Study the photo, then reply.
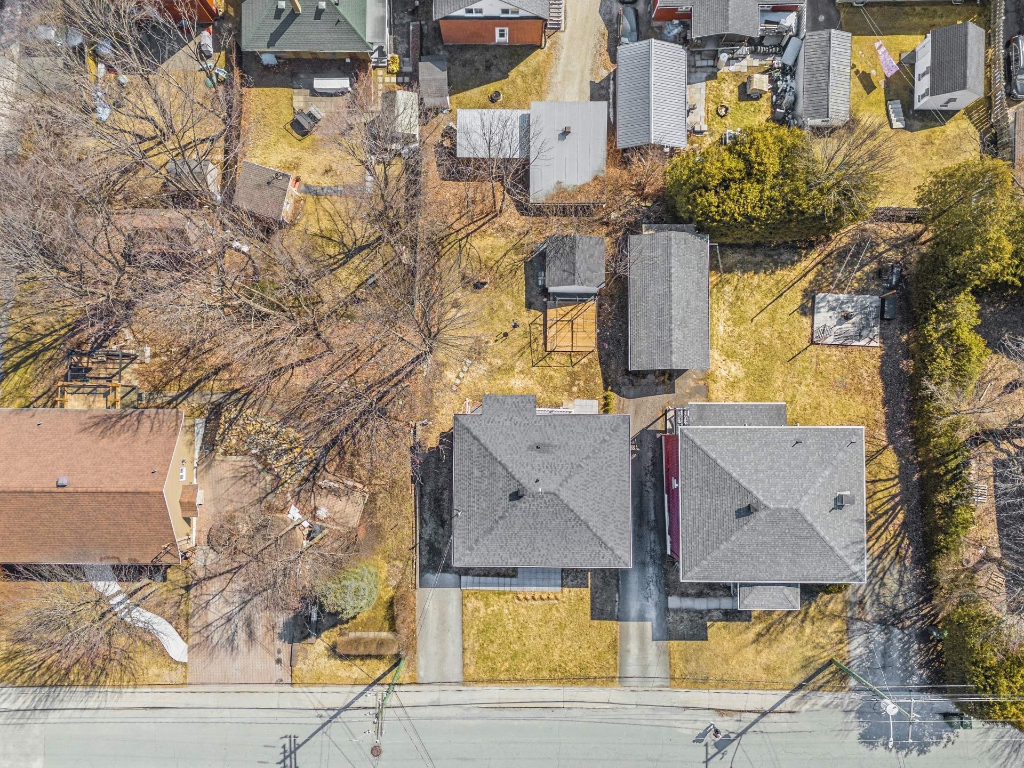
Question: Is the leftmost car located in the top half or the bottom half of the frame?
top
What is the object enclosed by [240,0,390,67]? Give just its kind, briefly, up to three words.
building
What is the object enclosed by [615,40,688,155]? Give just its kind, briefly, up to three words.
building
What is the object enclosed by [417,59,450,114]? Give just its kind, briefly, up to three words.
shed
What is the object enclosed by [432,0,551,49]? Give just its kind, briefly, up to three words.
house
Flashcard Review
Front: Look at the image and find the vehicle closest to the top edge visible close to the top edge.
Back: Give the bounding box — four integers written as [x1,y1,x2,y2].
[612,0,639,58]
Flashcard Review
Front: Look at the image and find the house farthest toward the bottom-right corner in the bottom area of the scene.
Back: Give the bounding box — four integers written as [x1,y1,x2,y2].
[660,403,868,611]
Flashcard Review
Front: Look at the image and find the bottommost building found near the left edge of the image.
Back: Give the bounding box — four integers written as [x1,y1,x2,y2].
[0,409,204,564]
